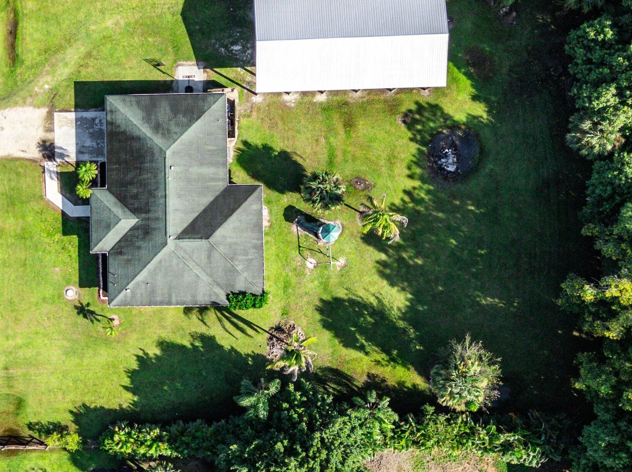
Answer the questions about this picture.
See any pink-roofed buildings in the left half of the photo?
No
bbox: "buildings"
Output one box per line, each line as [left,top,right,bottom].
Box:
[89,92,265,308]
[252,0,449,100]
